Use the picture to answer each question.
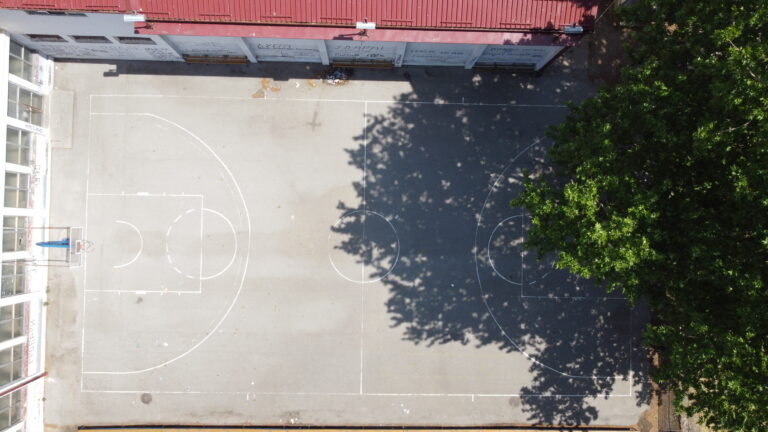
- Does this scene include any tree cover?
Yes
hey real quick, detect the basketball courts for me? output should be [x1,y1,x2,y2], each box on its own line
[42,33,650,432]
